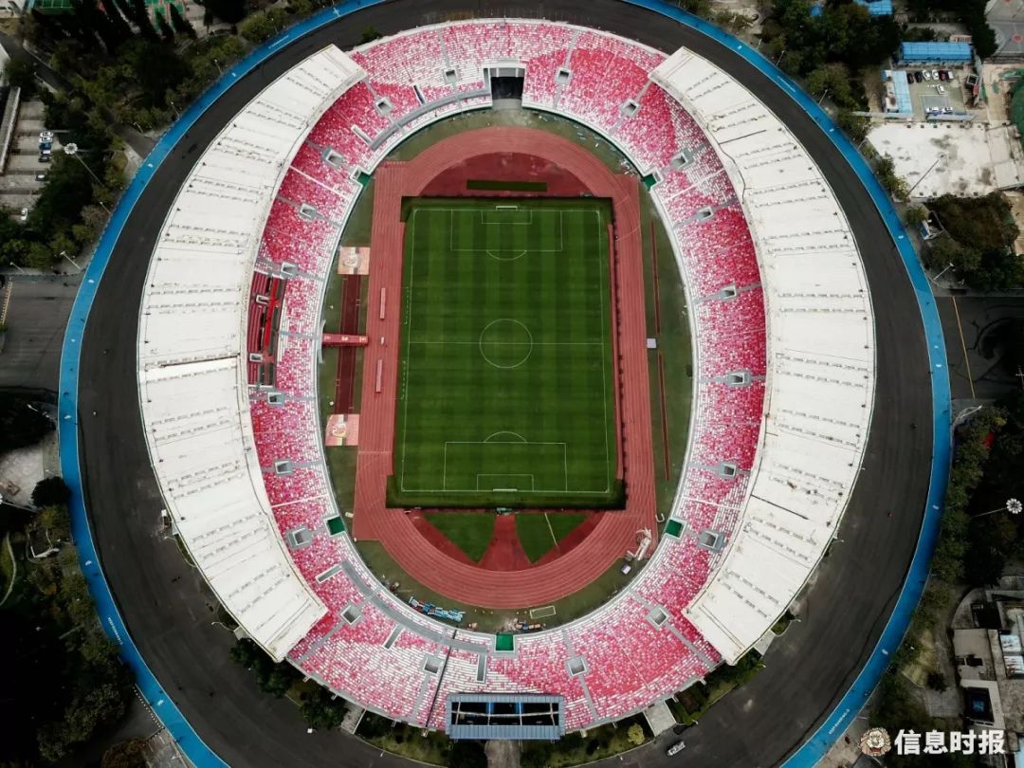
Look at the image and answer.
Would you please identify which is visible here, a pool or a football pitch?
football pitch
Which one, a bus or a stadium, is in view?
stadium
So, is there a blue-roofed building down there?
Yes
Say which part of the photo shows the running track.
center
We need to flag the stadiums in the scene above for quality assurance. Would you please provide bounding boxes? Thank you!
[135,19,875,739]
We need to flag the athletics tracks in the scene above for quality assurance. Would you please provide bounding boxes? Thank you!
[354,126,659,607]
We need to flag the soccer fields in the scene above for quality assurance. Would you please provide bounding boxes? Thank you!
[386,198,624,506]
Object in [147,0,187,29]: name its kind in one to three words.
sports court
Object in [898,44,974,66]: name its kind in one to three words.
building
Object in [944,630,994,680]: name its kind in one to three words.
building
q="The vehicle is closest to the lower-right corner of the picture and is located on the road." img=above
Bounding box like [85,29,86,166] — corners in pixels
[668,741,684,755]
